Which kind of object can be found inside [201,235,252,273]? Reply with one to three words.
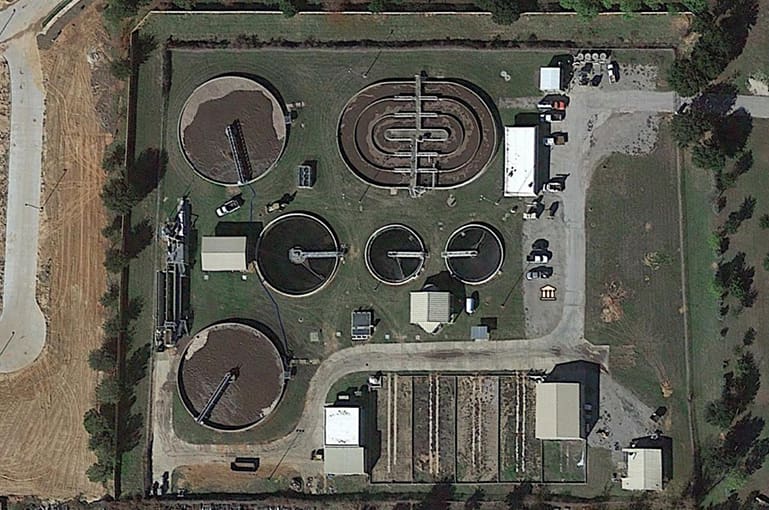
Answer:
building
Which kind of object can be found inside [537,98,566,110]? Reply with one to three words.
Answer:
vehicle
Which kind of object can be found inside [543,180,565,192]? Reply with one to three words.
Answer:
vehicle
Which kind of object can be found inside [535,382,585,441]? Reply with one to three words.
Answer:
building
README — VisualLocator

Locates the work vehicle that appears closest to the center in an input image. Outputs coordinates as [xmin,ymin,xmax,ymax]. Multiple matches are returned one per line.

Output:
[263,201,289,216]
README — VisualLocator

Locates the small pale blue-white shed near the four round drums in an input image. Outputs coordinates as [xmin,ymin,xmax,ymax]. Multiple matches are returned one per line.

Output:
[540,67,564,90]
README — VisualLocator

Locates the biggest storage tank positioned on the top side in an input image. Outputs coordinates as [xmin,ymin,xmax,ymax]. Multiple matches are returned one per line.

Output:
[179,77,293,189]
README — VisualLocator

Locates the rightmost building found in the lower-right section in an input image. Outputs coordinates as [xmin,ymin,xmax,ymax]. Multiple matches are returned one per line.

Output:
[622,448,665,491]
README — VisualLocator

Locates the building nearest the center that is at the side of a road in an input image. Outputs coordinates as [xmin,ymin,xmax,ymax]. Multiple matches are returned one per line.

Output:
[410,288,460,334]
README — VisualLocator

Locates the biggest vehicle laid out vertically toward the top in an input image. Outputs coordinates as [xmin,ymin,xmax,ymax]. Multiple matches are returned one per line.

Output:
[605,61,619,88]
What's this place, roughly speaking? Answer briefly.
industrial area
